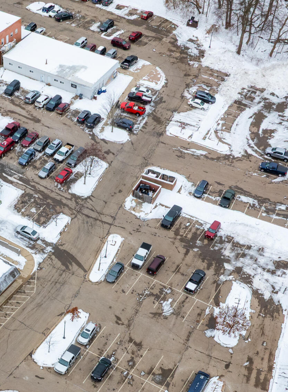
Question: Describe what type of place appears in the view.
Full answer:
What you see here is a parking lot.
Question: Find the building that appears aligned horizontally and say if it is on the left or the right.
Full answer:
You can find the building that appears aligned horizontally on the left side of the picture.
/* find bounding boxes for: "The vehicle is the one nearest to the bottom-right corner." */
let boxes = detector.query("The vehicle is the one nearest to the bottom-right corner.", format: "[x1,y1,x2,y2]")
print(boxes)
[188,371,210,392]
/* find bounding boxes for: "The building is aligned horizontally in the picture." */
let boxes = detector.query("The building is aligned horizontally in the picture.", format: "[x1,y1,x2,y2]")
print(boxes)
[3,33,119,99]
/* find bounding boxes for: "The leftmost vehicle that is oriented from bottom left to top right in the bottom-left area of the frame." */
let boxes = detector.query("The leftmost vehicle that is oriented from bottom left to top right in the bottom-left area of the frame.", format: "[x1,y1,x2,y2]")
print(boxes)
[55,342,81,374]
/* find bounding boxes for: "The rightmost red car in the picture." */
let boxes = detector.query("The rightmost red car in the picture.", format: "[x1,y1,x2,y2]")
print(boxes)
[206,219,223,239]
